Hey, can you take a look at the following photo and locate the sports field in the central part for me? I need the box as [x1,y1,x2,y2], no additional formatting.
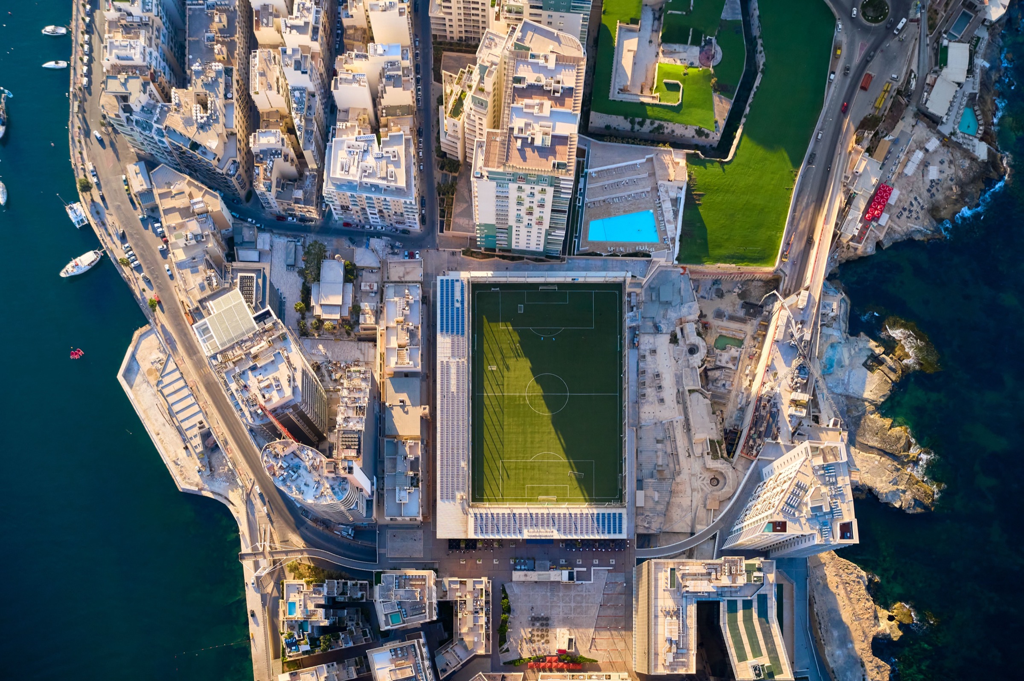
[472,283,623,504]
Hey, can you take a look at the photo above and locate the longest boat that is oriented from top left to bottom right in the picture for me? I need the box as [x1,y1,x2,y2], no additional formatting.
[54,192,90,230]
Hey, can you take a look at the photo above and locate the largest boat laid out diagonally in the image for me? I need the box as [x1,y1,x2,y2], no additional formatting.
[56,242,103,276]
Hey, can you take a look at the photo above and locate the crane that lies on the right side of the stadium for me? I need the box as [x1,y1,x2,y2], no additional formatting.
[767,324,845,424]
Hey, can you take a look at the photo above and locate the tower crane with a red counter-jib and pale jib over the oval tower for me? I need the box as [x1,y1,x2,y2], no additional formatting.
[251,396,354,522]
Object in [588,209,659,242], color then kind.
blue swimming pool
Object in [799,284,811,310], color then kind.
white vehicle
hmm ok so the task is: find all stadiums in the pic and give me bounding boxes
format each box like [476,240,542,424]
[470,282,628,538]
